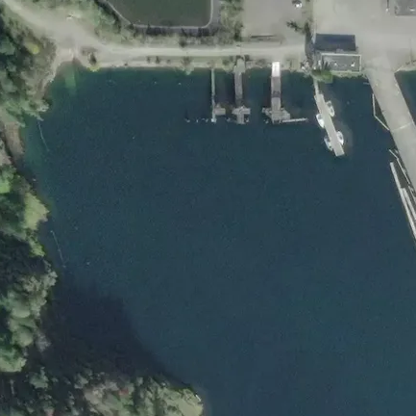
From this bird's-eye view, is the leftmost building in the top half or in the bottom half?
top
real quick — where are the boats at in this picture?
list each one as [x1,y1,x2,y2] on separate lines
[325,136,335,151]
[327,101,336,117]
[336,132,345,145]
[316,114,326,129]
